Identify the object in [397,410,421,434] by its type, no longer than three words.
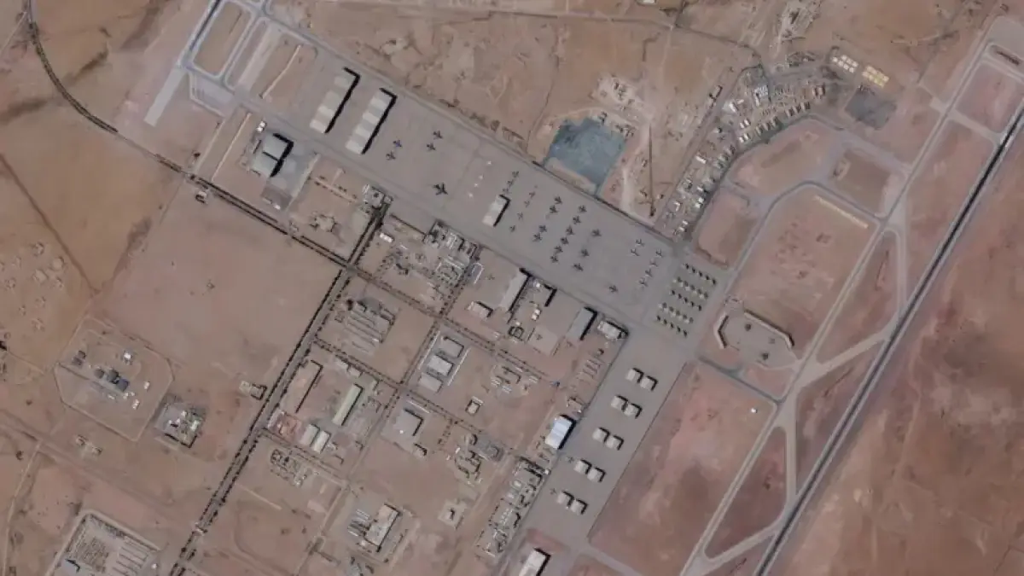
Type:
building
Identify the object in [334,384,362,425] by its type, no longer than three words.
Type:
building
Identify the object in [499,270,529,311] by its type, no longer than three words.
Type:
hangar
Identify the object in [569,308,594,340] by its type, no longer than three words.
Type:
hangar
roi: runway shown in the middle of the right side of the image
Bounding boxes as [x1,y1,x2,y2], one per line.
[751,98,1024,576]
